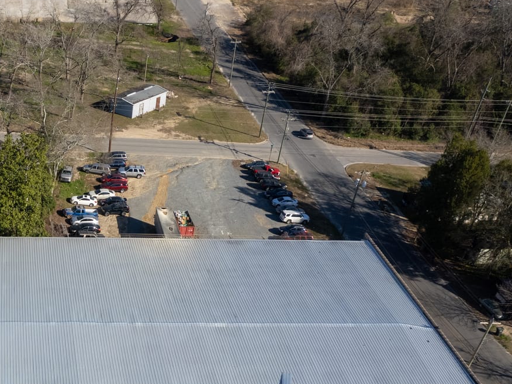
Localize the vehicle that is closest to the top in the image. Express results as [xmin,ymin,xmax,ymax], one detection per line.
[296,124,317,140]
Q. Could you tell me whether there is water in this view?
No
